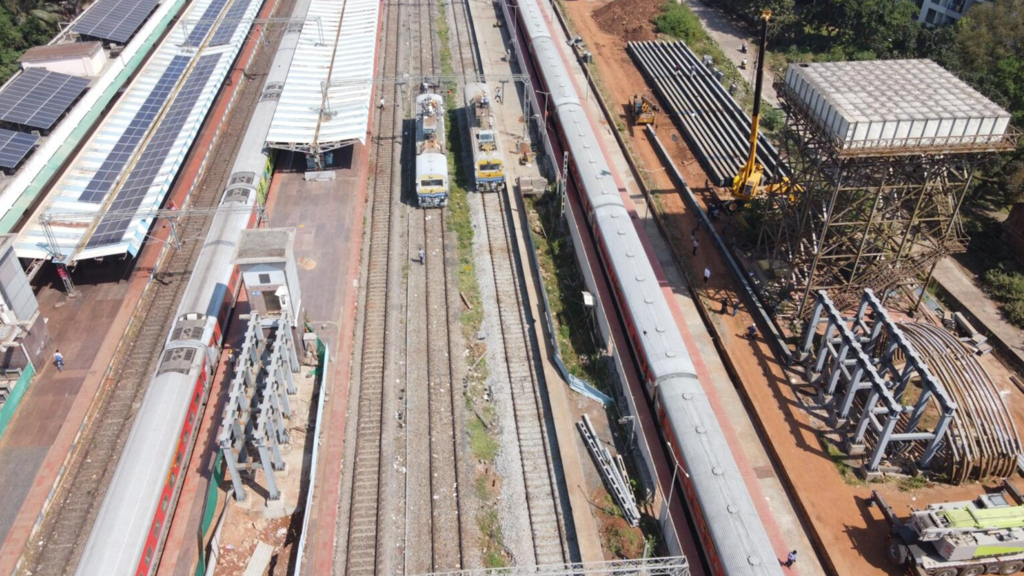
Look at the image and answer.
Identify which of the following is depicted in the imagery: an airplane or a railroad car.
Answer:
railroad car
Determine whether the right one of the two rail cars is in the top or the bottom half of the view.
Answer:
top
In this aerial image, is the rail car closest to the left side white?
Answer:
Yes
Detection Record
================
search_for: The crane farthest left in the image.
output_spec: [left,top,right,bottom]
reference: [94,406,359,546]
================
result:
[701,10,822,225]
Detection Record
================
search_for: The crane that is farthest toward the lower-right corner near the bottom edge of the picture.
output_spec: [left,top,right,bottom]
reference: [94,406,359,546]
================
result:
[866,477,1024,576]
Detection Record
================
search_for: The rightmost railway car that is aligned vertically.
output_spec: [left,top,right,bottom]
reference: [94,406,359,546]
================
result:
[465,90,504,193]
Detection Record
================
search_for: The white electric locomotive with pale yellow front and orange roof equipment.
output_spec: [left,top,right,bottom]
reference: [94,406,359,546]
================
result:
[415,101,447,209]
